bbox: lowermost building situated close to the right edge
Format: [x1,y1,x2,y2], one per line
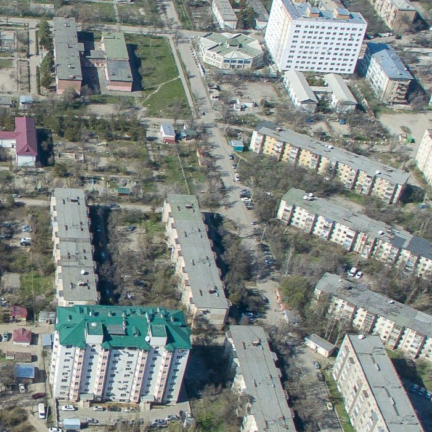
[336,334,424,432]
